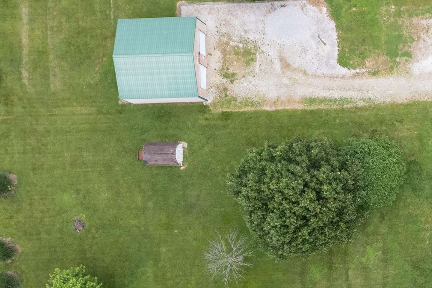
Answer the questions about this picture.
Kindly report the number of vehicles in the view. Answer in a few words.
0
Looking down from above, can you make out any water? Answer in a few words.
No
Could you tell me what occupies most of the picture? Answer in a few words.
grass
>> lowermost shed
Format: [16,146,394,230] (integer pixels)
[142,141,183,164]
